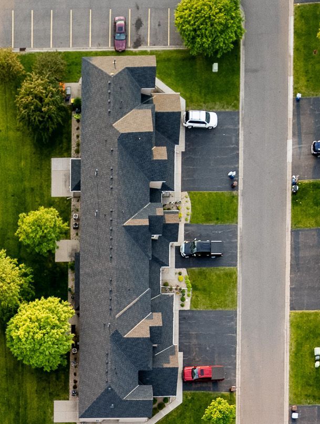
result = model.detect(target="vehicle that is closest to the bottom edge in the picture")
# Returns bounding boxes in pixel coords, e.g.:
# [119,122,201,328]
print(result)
[182,364,226,382]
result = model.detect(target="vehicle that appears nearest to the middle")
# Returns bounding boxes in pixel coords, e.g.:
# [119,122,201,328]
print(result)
[179,239,224,259]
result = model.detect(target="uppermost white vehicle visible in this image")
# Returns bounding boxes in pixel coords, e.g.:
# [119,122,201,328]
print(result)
[183,110,217,130]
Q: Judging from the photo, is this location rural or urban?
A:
urban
